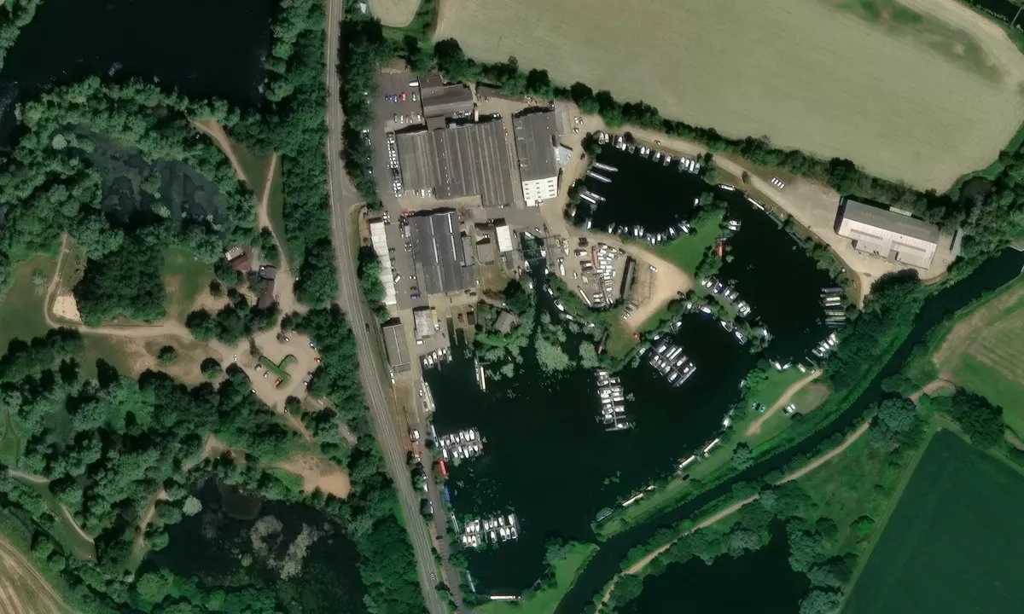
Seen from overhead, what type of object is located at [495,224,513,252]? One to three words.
building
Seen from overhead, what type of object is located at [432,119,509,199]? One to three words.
building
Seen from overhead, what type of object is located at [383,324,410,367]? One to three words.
shed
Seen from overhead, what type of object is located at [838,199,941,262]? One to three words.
barn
